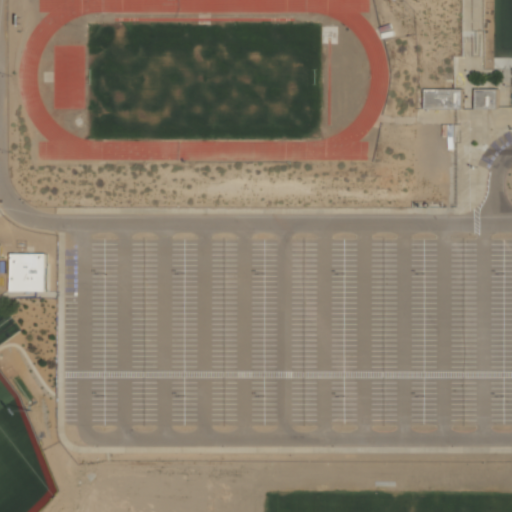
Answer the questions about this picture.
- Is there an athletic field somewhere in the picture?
Yes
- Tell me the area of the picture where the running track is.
top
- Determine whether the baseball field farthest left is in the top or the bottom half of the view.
bottom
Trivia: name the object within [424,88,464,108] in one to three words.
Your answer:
building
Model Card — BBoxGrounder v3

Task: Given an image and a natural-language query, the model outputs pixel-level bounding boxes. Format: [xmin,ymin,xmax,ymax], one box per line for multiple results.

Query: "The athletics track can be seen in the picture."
[22,0,390,160]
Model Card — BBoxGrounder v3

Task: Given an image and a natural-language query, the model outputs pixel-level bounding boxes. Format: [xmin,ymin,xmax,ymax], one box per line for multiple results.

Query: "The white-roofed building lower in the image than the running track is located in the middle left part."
[10,254,49,292]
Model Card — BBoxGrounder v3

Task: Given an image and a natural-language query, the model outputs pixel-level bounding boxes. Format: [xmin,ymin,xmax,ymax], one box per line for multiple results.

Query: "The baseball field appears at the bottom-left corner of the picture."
[0,368,58,512]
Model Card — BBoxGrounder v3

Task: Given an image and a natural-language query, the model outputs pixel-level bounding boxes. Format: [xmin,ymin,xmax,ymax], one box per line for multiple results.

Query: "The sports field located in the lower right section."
[265,490,512,512]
